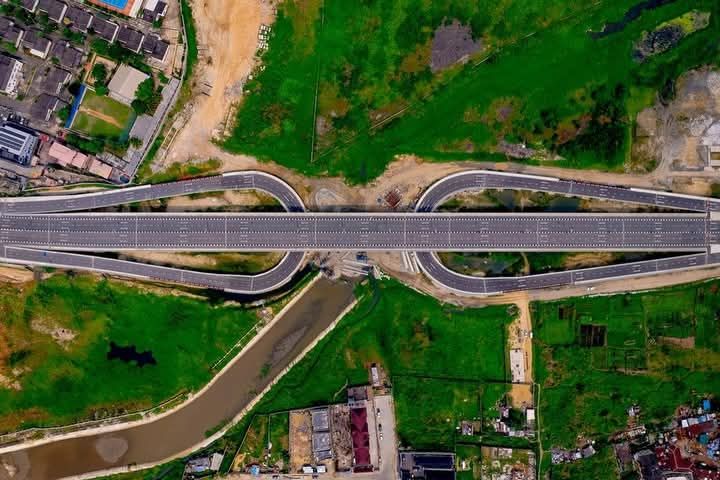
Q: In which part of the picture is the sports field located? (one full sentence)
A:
The sports field appears toward the top left of the photo.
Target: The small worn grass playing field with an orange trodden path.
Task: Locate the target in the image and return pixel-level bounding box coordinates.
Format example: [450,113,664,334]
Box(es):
[72,91,132,142]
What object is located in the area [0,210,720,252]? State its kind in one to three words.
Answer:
bridge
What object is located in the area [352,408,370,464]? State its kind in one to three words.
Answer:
building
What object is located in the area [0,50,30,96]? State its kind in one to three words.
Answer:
building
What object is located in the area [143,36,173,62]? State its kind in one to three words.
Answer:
house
